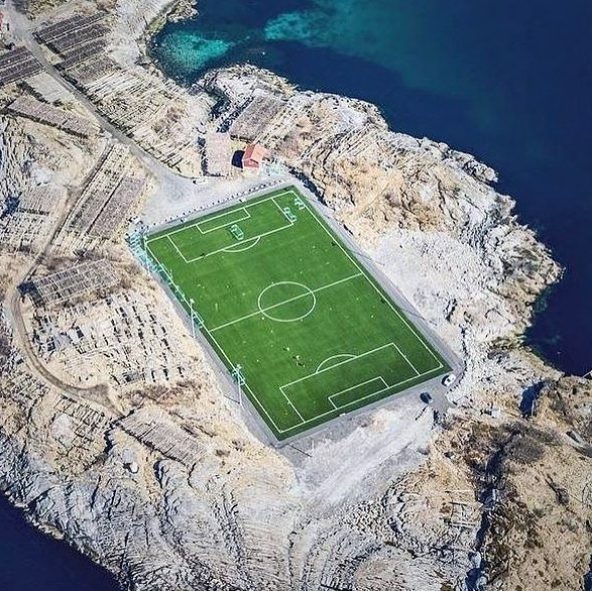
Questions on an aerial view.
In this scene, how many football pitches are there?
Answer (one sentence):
Only 1 football pitch is visible.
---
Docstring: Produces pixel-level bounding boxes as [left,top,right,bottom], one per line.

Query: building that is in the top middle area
[242,141,268,172]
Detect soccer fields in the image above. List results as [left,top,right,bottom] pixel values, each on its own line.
[139,185,452,440]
